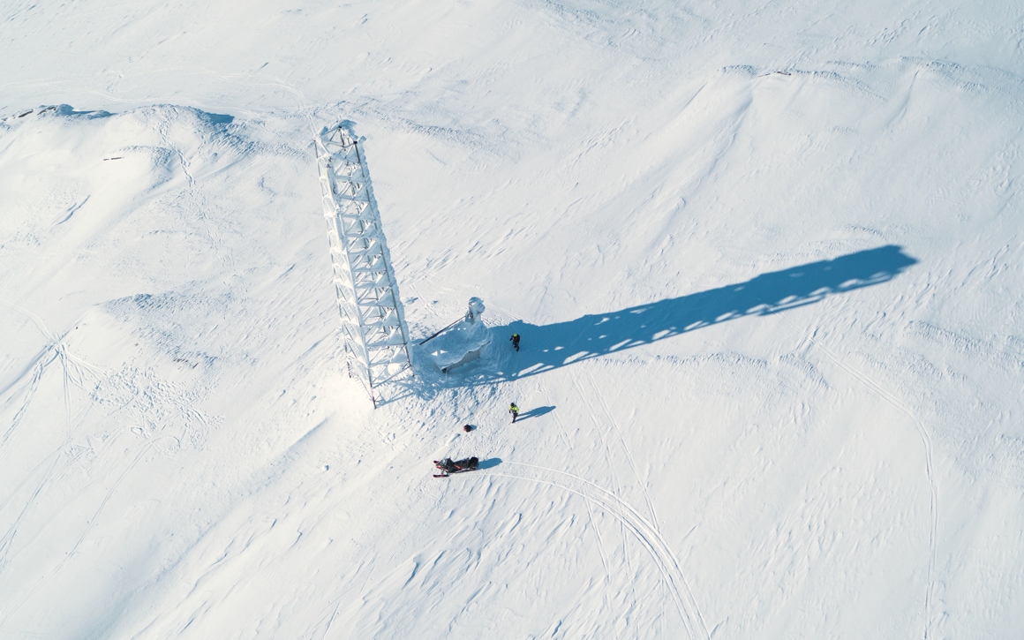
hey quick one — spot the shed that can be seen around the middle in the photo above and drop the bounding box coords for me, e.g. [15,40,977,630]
[420,319,495,377]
